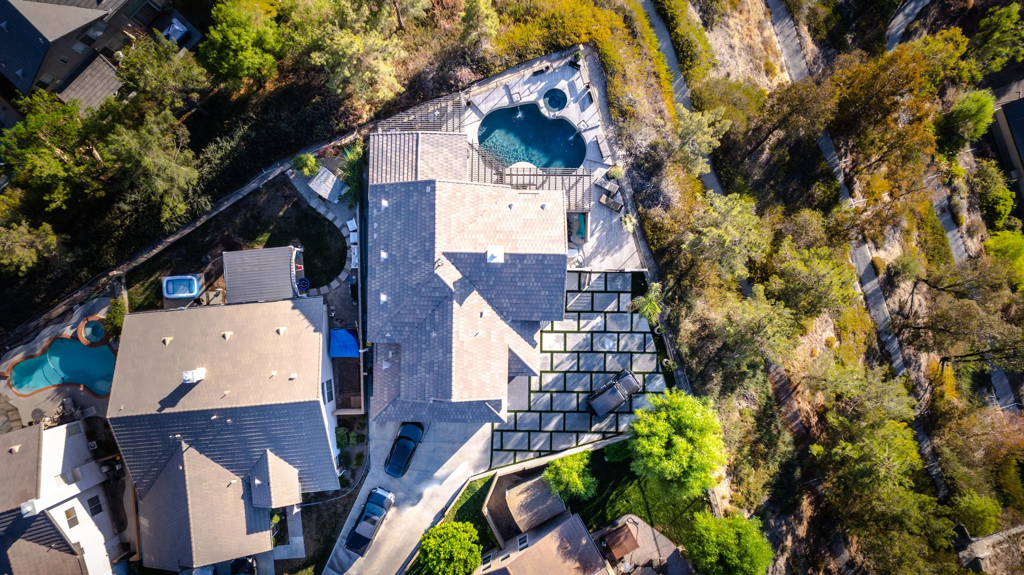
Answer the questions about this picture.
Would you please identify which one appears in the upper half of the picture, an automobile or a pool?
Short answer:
pool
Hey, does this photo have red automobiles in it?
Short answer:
No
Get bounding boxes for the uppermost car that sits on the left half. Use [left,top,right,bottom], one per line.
[383,423,422,483]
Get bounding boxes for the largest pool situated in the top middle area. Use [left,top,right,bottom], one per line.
[475,100,589,178]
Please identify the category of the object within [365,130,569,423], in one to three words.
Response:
house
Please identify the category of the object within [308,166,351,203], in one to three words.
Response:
shed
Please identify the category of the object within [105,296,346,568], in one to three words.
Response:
house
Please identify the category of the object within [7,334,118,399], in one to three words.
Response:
swimming pool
